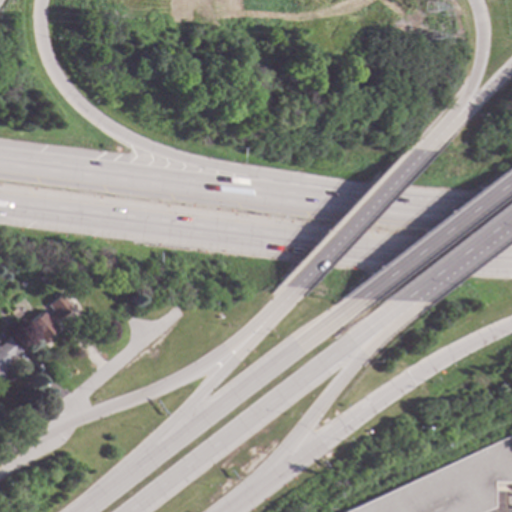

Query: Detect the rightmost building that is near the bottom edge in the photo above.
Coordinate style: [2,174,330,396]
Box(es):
[342,434,512,512]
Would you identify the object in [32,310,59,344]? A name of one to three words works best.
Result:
house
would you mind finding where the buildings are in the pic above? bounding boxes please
[0,336,25,368]
[342,434,512,512]
[14,298,32,318]
[32,310,59,344]
[53,289,82,315]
